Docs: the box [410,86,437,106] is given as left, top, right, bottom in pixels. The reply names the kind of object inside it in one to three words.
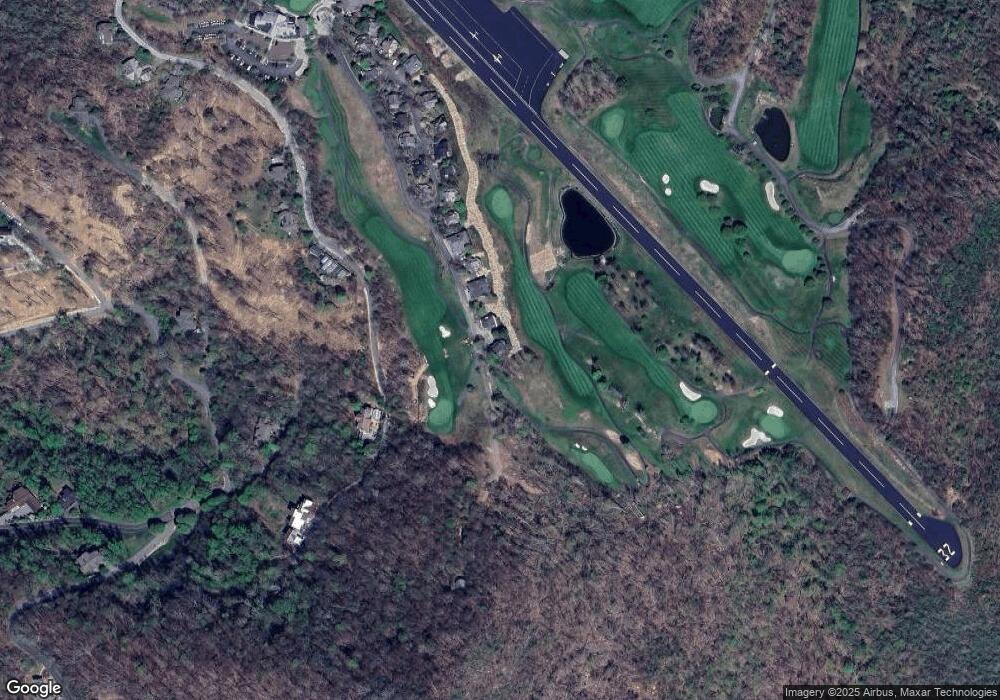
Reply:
house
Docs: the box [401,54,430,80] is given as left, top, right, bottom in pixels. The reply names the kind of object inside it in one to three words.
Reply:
house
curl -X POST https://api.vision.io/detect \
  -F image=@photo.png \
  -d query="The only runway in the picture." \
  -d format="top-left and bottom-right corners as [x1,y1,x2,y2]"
[404,0,962,568]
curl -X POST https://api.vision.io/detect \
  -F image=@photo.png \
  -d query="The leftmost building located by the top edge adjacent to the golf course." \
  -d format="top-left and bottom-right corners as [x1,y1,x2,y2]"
[253,9,297,40]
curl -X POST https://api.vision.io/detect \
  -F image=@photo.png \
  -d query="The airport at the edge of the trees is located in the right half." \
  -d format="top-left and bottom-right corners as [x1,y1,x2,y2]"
[404,0,962,568]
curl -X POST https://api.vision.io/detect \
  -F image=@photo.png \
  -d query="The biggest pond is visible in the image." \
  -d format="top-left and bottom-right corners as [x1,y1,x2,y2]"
[560,187,617,259]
